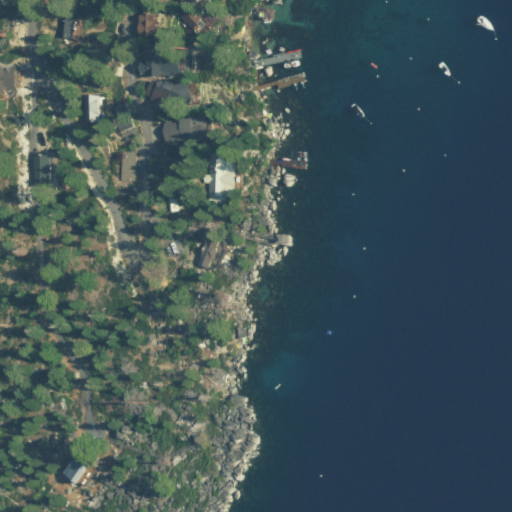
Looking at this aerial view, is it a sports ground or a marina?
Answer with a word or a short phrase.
marina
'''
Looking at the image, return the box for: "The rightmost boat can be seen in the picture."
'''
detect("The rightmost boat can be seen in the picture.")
[476,15,493,30]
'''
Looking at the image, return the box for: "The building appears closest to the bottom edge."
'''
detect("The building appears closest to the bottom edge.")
[62,460,94,488]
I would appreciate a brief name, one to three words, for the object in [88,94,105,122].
house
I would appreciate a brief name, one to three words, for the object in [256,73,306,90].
pier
